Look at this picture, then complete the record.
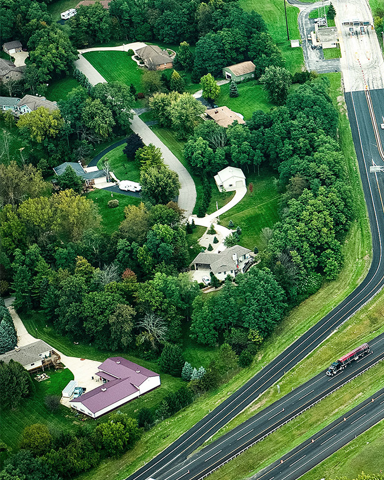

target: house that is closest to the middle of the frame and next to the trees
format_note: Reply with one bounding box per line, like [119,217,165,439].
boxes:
[193,249,256,276]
